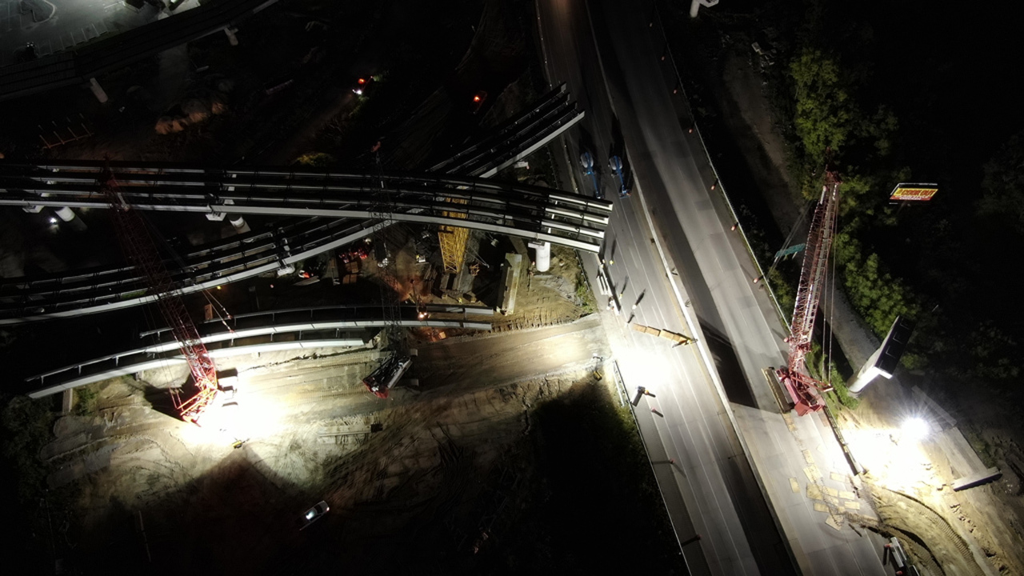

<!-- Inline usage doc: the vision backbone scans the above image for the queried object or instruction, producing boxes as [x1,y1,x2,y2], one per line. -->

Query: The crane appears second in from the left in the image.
[364,140,418,392]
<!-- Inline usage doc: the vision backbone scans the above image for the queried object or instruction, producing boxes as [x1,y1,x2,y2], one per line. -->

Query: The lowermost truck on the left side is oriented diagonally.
[296,500,329,529]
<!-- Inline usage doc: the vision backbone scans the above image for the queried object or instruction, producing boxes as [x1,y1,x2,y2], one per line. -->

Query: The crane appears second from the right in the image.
[440,185,487,294]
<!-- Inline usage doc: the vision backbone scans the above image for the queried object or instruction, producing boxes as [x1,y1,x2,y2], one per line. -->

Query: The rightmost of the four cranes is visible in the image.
[775,168,840,416]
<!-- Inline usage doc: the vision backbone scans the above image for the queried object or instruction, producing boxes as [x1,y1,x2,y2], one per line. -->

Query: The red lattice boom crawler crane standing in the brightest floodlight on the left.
[104,165,221,427]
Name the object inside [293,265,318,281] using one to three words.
work vehicle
